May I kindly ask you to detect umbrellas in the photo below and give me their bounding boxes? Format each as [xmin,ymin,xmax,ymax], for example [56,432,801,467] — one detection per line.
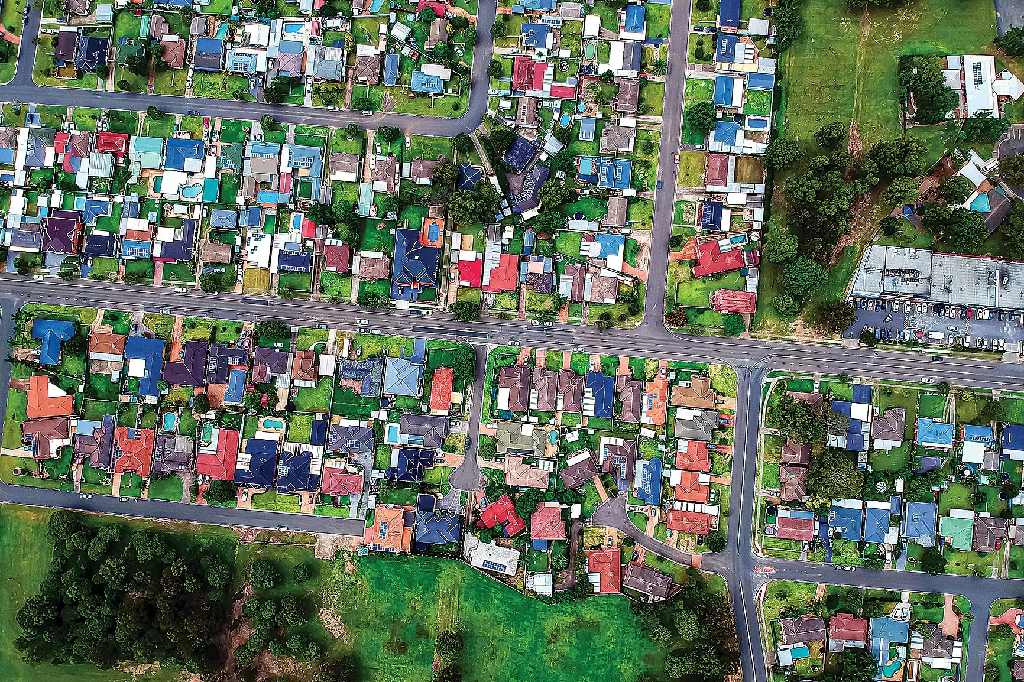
[750,231,760,242]
[877,481,886,492]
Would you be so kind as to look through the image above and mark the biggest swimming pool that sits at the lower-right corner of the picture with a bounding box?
[884,659,901,679]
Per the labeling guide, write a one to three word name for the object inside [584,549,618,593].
house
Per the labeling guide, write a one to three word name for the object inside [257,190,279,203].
swimming pool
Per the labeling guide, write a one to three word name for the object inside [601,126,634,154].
house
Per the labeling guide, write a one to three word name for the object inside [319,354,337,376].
building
